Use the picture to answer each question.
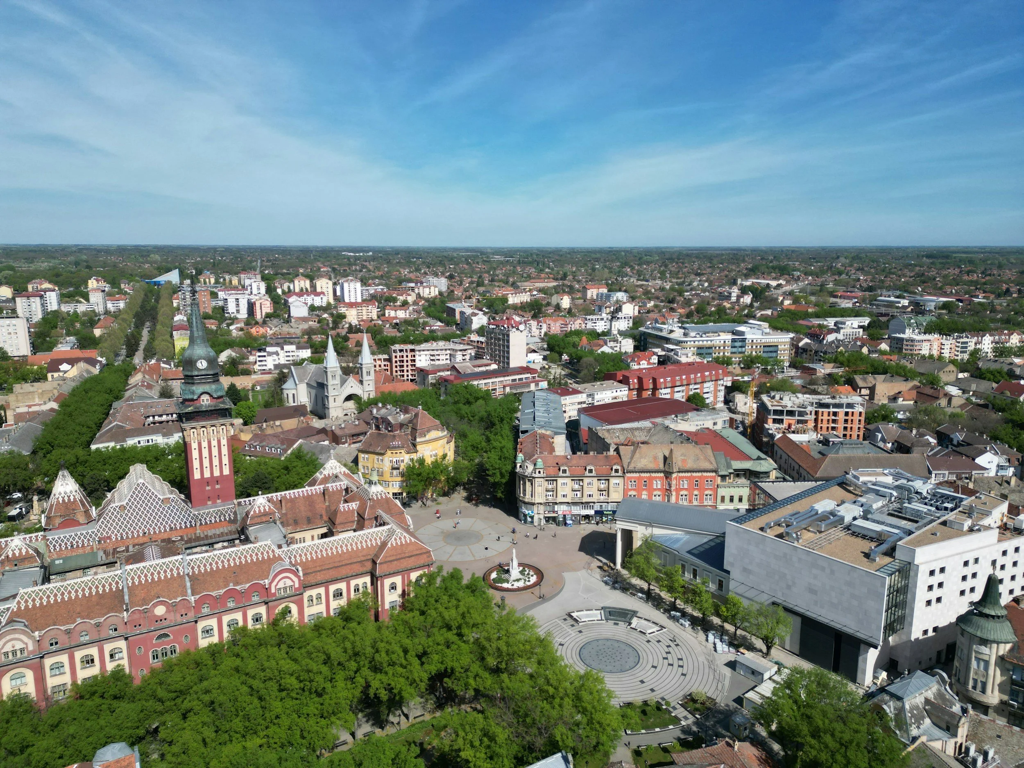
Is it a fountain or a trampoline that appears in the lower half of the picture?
fountain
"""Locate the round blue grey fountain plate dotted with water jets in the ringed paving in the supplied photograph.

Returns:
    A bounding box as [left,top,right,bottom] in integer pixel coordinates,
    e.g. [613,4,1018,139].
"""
[579,638,640,673]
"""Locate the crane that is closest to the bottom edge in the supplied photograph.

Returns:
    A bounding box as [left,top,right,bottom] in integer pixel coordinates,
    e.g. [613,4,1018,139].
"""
[721,366,867,439]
